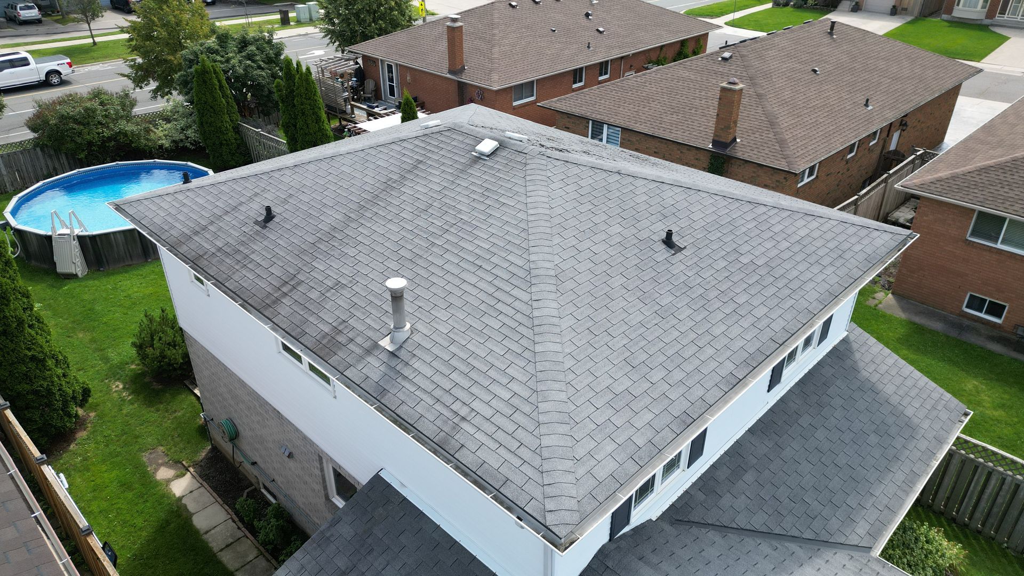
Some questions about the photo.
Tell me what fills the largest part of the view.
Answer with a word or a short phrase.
buildings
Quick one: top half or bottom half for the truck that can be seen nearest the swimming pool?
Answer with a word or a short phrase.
top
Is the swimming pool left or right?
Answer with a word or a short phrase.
left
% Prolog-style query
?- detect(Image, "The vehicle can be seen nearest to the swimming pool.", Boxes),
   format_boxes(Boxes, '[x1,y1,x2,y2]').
[0,52,77,88]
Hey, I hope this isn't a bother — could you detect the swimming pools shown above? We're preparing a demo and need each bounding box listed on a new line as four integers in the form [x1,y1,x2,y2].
[0,161,206,271]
